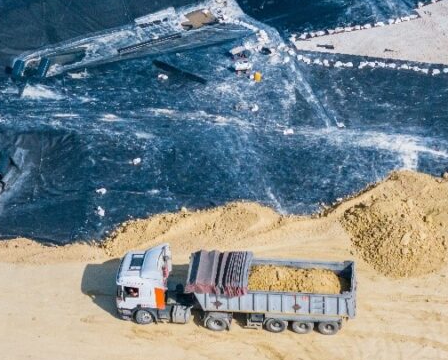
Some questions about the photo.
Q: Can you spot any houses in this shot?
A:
No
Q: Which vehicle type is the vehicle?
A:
truck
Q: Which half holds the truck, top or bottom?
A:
bottom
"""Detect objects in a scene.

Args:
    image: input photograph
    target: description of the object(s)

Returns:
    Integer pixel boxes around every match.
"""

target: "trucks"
[116,242,360,334]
